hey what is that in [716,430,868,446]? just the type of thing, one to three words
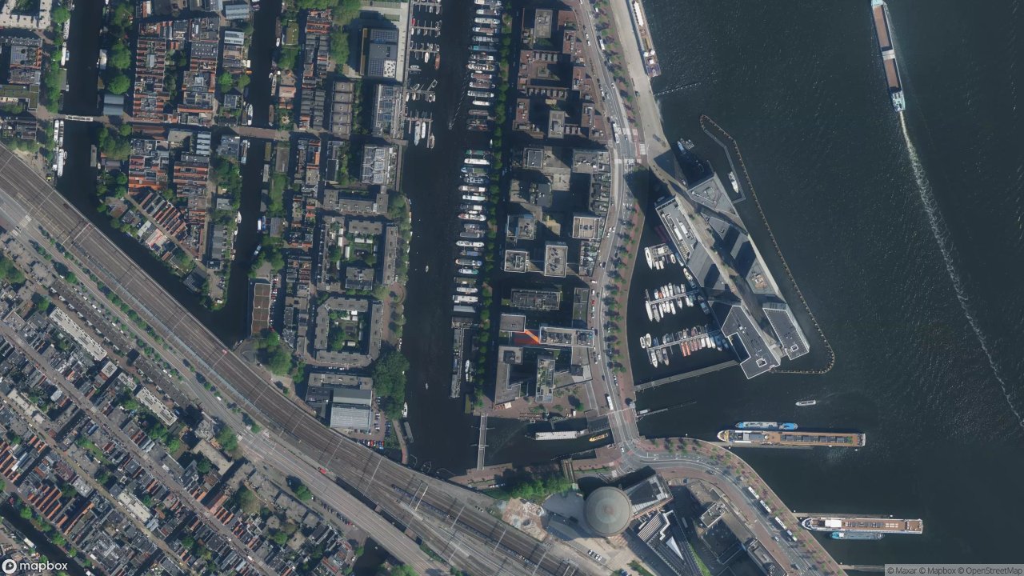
ship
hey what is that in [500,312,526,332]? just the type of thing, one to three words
building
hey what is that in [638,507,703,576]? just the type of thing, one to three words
building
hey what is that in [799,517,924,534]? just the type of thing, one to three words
ship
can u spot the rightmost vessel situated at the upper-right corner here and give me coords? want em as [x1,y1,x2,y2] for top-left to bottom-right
[871,0,906,112]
